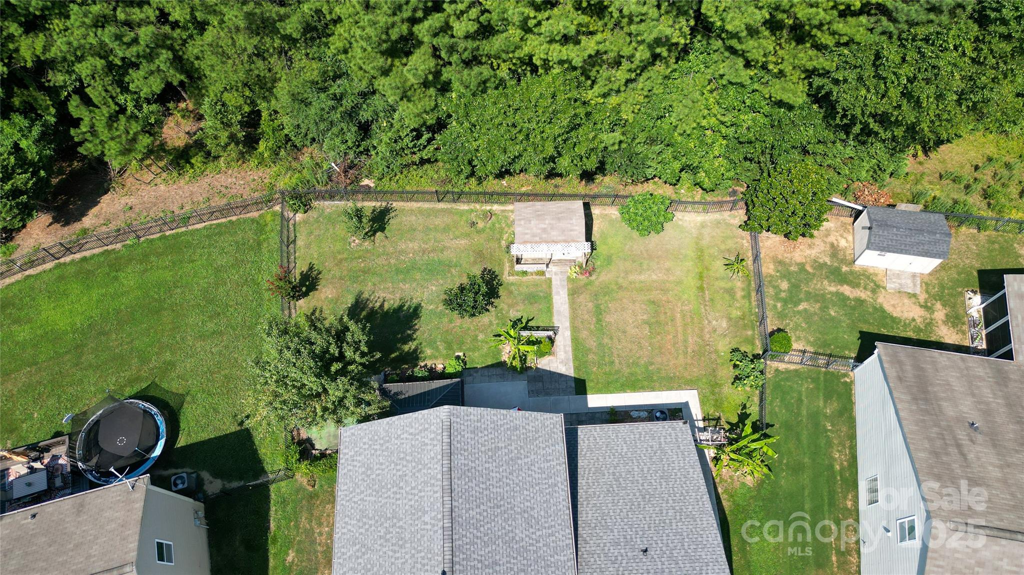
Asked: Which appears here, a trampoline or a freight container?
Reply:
trampoline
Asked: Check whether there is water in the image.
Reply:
No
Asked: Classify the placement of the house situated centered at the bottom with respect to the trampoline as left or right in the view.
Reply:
to its right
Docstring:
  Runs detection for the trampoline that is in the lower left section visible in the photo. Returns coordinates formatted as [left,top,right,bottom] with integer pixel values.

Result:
[59,389,174,486]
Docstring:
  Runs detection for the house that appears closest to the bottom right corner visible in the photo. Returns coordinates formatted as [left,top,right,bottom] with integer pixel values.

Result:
[852,273,1024,575]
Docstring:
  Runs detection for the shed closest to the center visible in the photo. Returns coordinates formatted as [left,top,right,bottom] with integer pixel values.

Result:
[511,201,592,276]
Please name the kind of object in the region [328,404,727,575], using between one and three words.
house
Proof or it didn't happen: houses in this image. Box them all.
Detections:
[852,273,1024,575]
[0,474,208,575]
[328,404,727,575]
